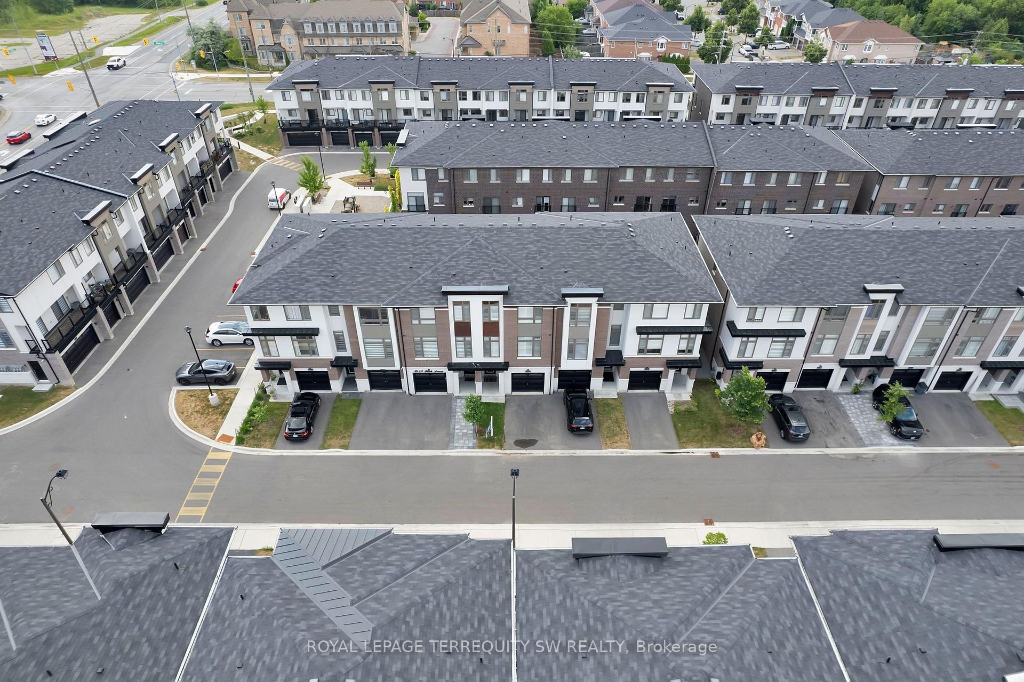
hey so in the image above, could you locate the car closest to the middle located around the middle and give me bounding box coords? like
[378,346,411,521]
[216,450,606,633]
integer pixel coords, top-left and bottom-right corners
[565,386,593,431]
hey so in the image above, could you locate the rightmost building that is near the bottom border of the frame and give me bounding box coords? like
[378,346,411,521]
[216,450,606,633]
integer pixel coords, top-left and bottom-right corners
[789,528,1024,682]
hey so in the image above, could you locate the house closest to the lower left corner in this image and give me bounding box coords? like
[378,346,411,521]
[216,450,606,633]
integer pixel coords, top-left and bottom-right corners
[0,512,238,682]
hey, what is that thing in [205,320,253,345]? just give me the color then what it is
white car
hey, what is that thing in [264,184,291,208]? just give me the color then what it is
white vehicle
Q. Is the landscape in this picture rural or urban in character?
urban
